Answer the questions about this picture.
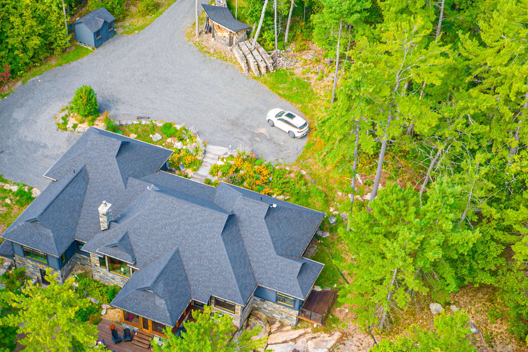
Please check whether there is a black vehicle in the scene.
No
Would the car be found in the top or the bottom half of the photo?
top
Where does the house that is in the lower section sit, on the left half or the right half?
left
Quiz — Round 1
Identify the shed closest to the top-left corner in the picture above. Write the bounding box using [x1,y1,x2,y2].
[71,4,115,47]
